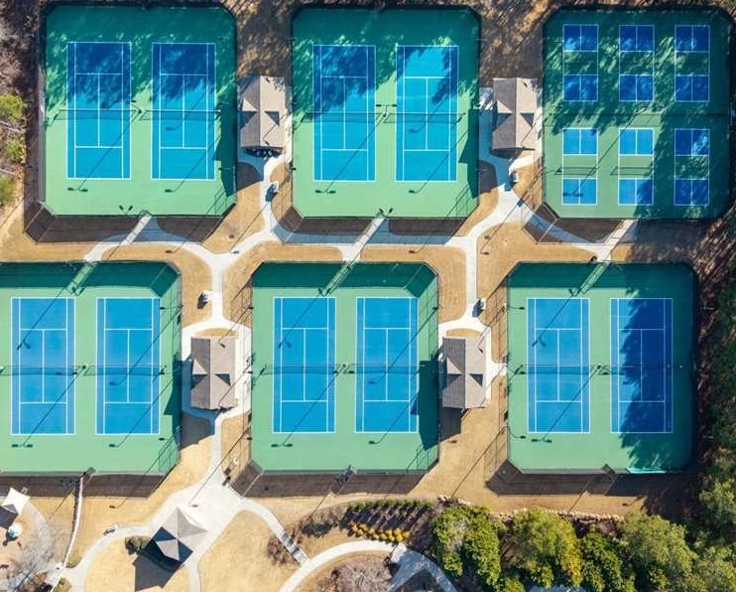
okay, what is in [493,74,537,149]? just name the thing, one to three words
building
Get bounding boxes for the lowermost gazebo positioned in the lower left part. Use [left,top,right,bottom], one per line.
[153,502,210,562]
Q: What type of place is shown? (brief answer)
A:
sports ground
